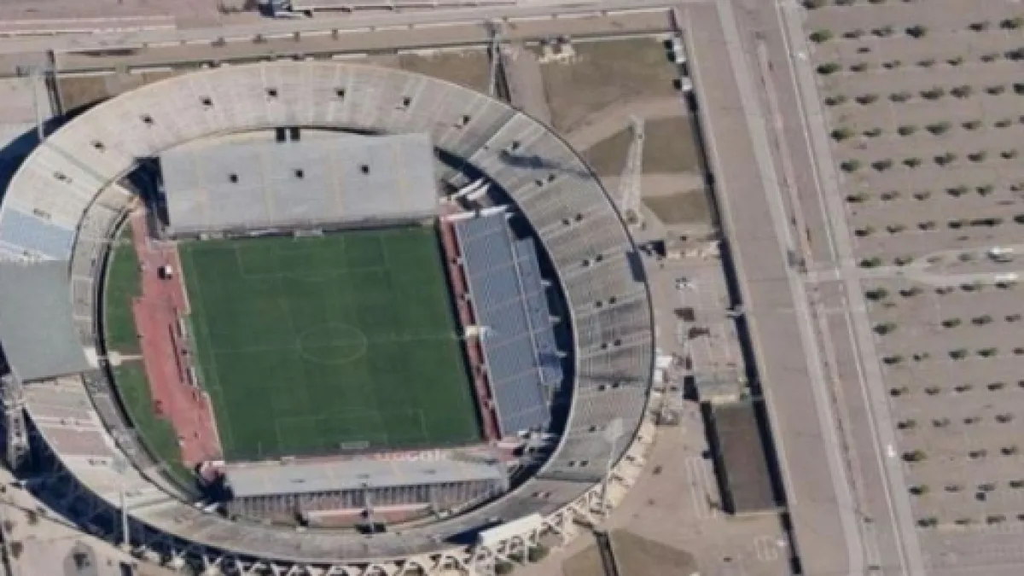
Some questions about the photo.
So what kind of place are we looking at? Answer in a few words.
sports ground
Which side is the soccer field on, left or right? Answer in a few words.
left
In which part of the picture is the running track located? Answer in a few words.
left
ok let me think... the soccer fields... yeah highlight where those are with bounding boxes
[179,226,489,461]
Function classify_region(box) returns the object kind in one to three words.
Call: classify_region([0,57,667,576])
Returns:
stadium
